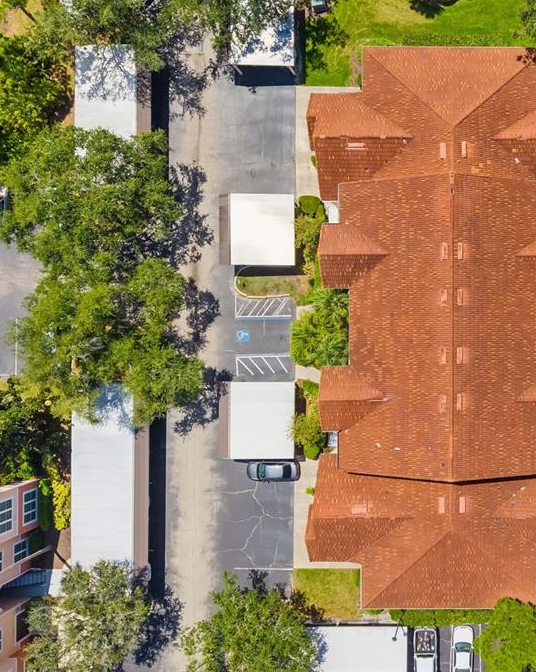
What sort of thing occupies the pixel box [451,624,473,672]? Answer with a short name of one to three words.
car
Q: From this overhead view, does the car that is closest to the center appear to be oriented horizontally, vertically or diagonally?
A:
horizontally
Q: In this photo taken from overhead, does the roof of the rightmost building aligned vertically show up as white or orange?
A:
orange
